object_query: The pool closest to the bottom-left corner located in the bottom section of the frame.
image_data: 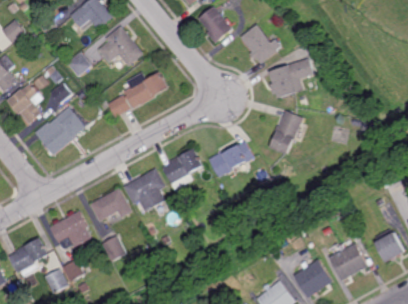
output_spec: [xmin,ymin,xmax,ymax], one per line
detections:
[164,210,182,227]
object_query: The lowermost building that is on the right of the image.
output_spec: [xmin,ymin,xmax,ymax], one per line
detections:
[258,280,296,304]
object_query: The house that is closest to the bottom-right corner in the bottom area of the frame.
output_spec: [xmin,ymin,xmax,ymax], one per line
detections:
[374,232,405,262]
